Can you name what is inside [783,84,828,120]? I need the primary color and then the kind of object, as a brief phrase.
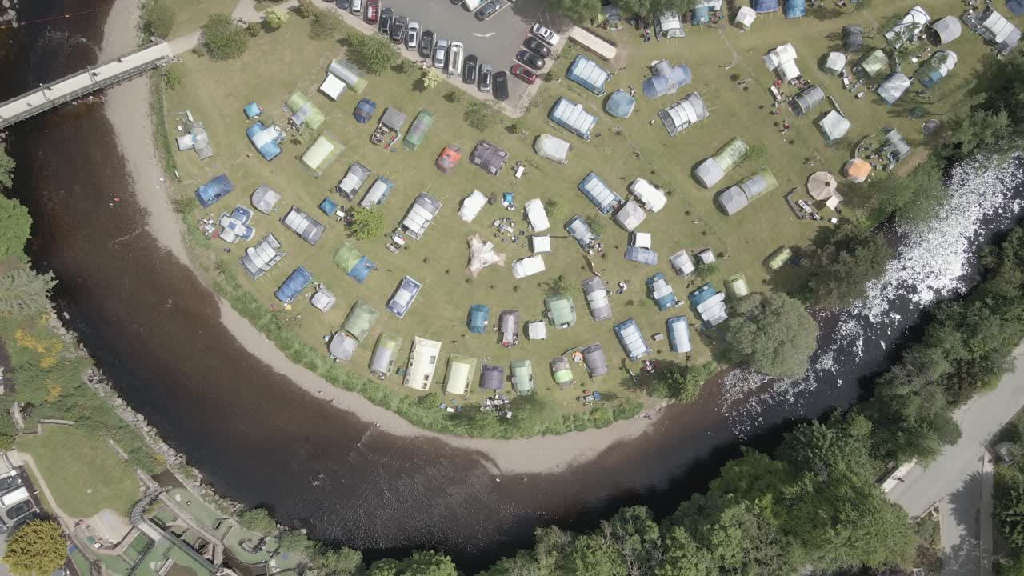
gray tent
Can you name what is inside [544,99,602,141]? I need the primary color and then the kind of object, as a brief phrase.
white tent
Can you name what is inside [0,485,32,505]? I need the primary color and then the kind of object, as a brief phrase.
white vehicle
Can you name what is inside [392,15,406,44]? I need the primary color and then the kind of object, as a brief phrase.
gray car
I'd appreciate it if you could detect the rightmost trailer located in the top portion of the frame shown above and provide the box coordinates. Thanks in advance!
[567,24,615,61]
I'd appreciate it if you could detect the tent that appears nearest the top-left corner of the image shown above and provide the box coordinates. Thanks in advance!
[179,121,215,161]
